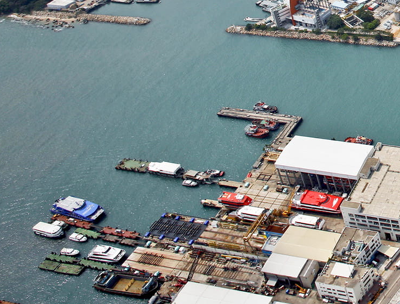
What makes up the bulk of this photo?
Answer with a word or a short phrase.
water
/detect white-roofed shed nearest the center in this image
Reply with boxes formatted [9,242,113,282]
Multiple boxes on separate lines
[147,162,184,181]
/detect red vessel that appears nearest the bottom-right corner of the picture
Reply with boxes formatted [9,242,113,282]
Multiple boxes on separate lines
[291,191,342,214]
